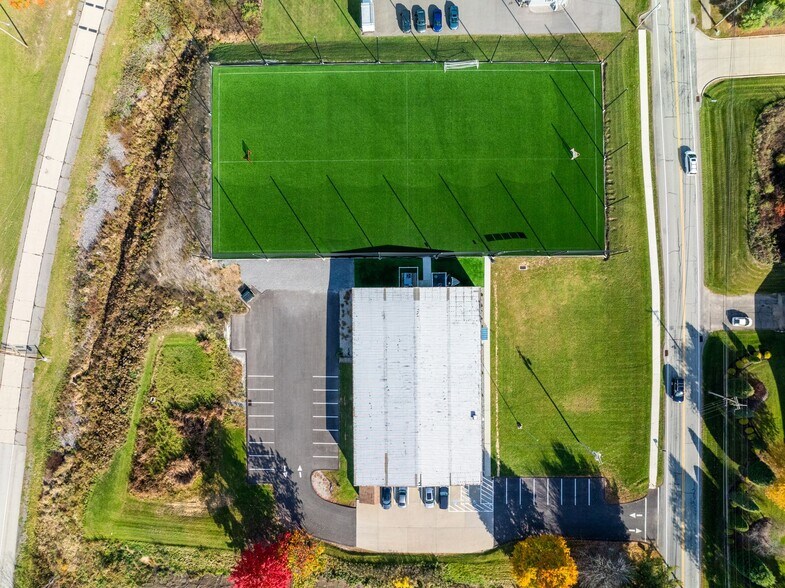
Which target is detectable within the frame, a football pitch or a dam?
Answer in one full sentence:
Looking from above, you can make out a football pitch.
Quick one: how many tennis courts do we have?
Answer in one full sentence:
There are no tennis courts in the image.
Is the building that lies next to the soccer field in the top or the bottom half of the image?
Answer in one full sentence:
You can find the building that lies next to the soccer field in the bottom half.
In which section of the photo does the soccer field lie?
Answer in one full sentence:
The soccer field appears toward the top of the photo.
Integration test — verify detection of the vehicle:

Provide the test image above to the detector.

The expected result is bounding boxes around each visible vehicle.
[672,376,685,401]
[438,487,449,508]
[362,0,375,29]
[432,7,442,31]
[448,4,459,29]
[685,151,698,176]
[414,8,425,32]
[728,316,750,327]
[396,487,407,508]
[424,487,435,507]
[382,487,392,508]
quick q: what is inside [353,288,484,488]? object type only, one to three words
building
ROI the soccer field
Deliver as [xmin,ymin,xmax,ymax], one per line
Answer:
[211,61,606,256]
